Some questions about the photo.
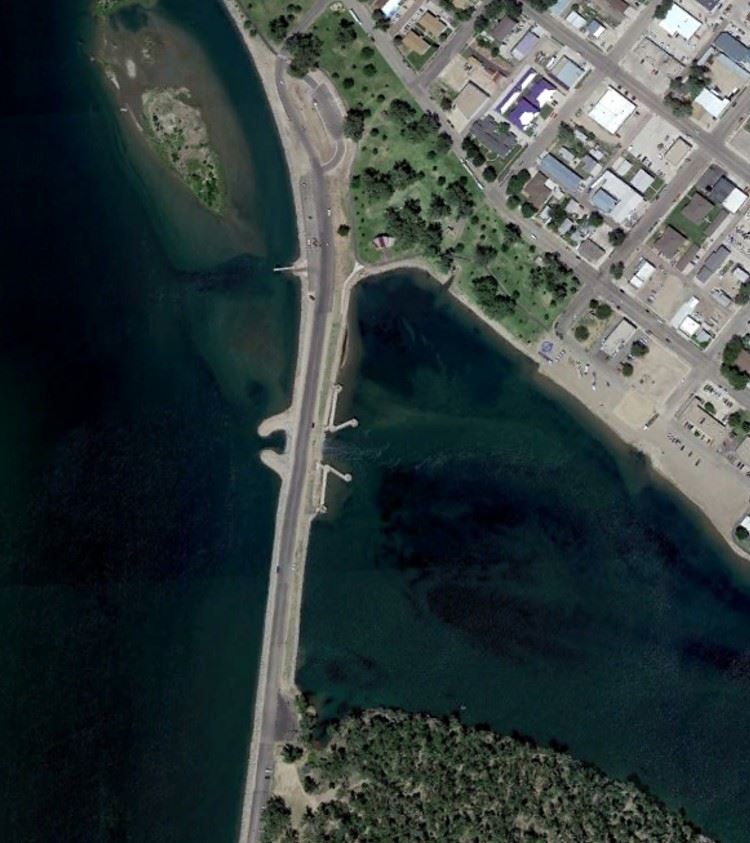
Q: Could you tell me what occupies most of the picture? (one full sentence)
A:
For the most part, this view shows water.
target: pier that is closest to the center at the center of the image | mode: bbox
[324,384,357,432]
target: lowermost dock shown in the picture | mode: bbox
[315,463,352,512]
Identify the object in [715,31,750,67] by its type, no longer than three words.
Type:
building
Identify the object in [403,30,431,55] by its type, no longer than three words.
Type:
house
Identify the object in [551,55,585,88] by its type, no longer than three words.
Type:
shed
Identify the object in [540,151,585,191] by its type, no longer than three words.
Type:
building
